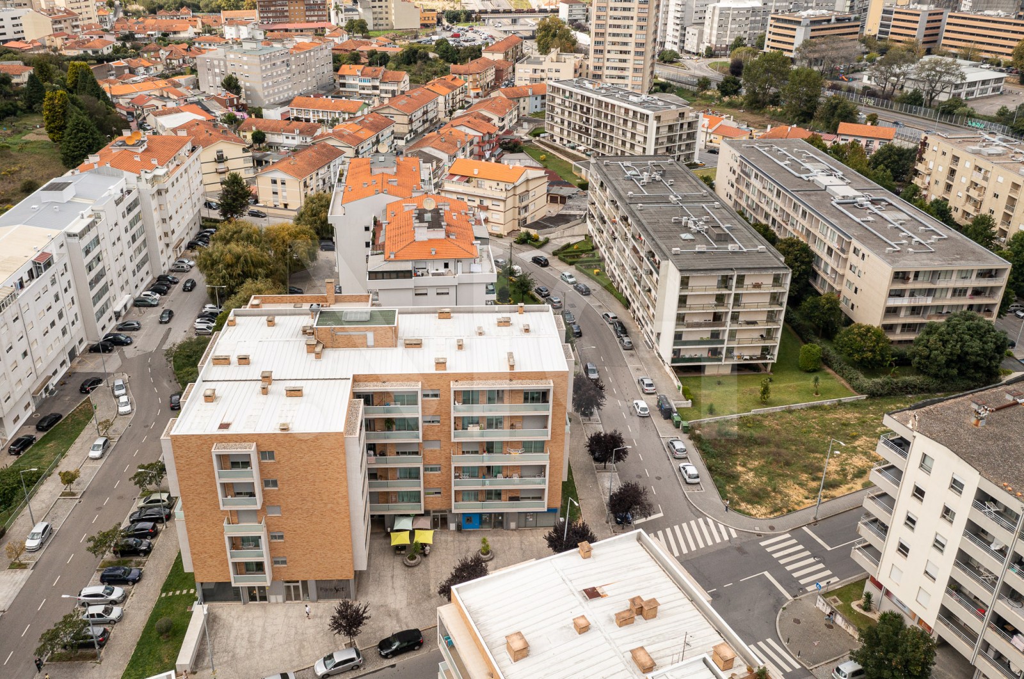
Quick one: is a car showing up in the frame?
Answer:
Yes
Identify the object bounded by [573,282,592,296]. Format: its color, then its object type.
gray car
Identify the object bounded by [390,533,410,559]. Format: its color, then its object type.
yellow umbrella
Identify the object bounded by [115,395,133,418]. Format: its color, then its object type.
white car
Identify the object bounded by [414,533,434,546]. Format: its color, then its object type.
yellow umbrella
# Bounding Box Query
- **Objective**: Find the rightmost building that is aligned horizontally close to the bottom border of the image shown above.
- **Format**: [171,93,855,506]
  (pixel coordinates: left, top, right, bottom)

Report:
[431,526,792,679]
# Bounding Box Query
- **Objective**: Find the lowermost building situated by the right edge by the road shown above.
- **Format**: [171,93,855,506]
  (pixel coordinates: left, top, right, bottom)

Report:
[851,367,1024,679]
